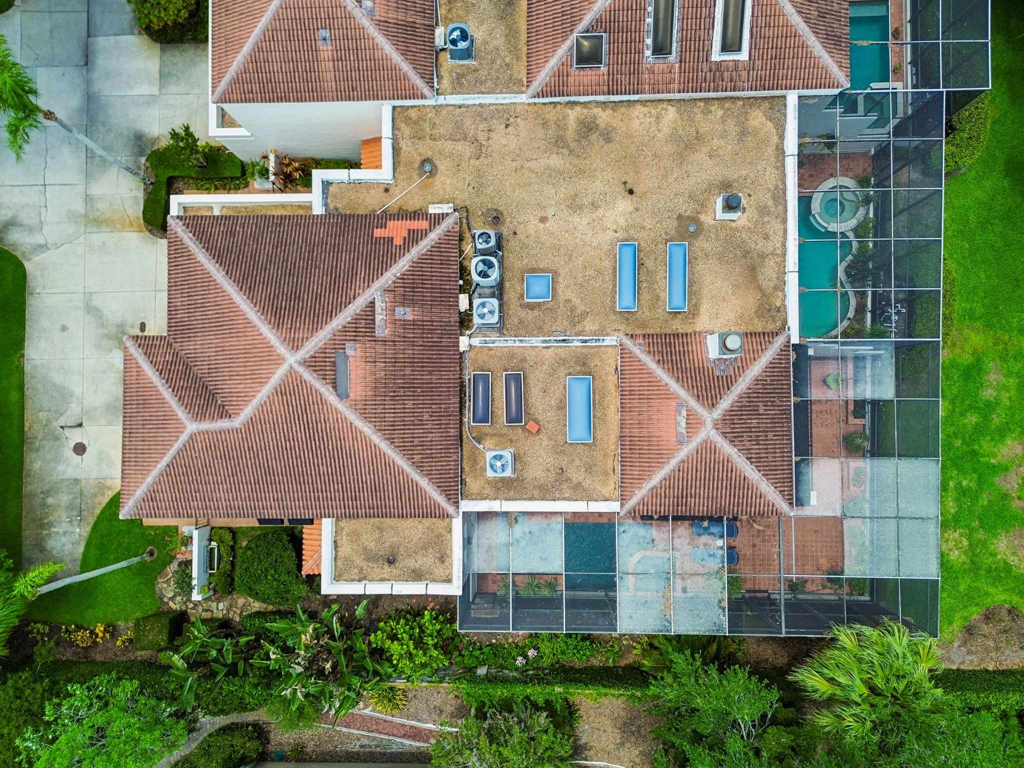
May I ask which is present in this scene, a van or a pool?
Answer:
pool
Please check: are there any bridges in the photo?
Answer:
No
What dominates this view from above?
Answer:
buildings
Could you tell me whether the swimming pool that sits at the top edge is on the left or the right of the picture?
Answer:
right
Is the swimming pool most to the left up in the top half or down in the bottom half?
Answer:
bottom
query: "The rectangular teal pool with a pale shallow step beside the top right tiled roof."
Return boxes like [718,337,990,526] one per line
[832,2,902,131]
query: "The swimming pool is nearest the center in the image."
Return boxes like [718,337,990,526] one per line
[496,512,681,598]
